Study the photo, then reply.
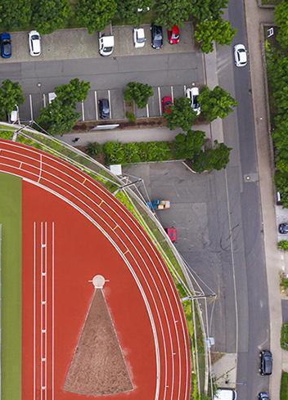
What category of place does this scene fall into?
sports ground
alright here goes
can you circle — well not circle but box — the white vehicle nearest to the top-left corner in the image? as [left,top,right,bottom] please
[28,30,42,56]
